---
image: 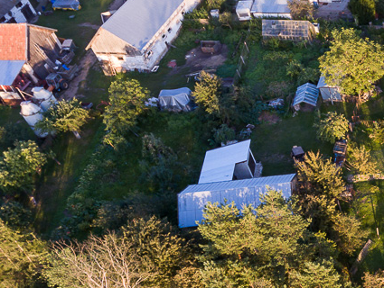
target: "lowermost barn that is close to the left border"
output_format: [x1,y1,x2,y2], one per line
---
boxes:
[0,20,58,94]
